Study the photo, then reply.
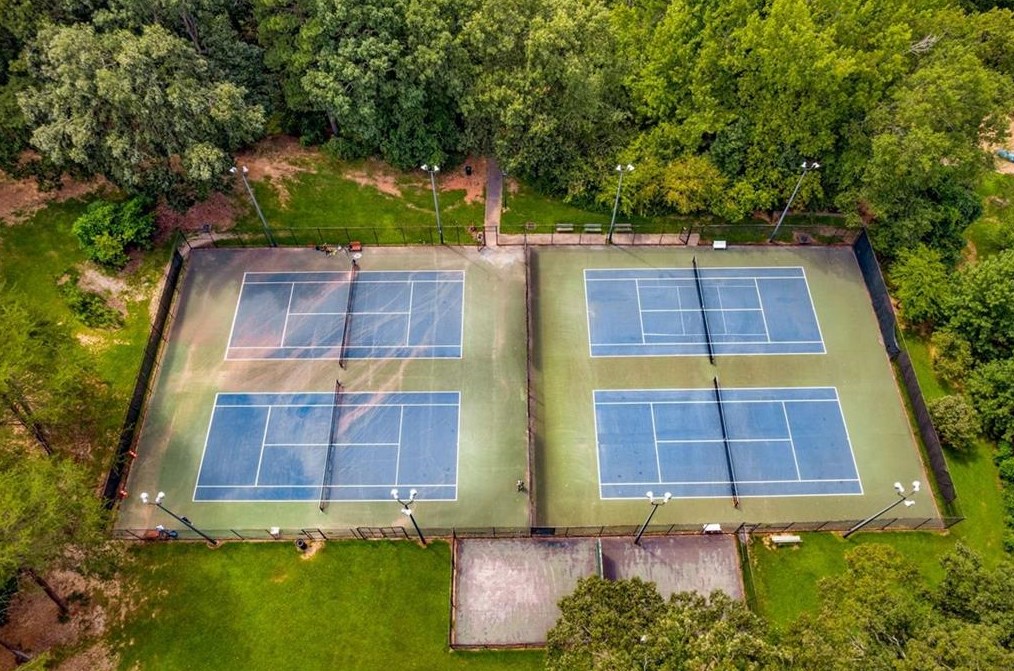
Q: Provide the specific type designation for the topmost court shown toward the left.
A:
tennis court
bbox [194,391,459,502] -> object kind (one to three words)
tennis court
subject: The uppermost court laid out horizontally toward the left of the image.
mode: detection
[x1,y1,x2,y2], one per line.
[226,270,464,360]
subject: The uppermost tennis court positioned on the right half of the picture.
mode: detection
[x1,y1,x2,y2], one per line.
[583,266,826,356]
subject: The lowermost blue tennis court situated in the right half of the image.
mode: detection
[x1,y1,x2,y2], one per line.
[593,388,862,498]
